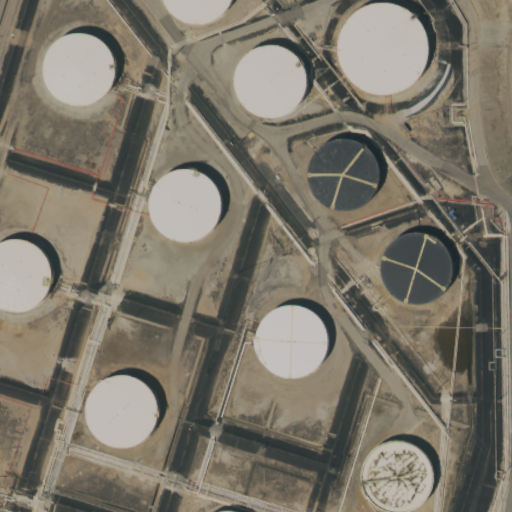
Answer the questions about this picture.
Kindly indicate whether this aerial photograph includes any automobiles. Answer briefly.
No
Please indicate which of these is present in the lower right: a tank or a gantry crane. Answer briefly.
tank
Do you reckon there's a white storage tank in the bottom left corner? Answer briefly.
Yes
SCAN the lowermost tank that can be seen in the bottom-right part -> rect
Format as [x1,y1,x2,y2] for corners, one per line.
[360,440,434,512]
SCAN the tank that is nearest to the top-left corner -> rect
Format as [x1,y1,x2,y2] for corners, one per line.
[42,32,117,108]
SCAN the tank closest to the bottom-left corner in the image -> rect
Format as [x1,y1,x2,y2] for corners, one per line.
[85,374,159,448]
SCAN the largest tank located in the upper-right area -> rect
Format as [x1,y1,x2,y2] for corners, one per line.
[336,3,429,97]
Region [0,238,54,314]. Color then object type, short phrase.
white storage tank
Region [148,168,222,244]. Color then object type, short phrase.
white storage tank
